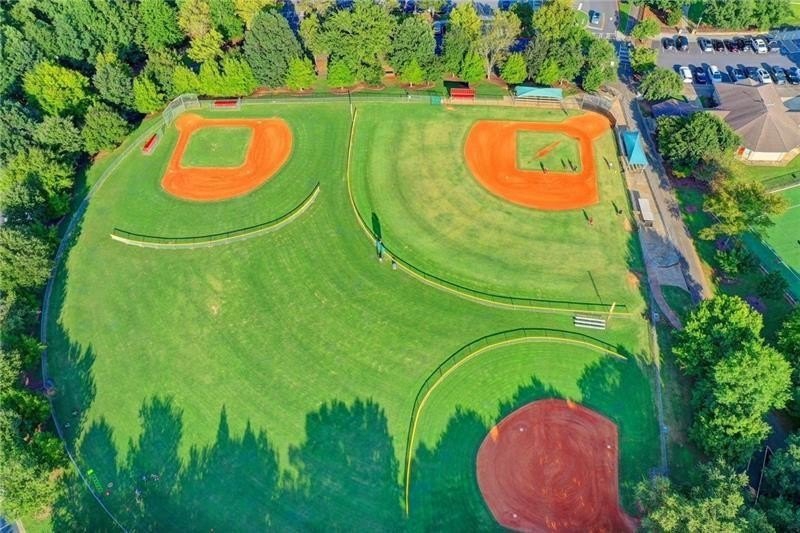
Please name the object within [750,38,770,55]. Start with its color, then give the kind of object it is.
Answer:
white car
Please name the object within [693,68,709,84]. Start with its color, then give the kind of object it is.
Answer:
blue car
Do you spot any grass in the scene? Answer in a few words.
Yes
